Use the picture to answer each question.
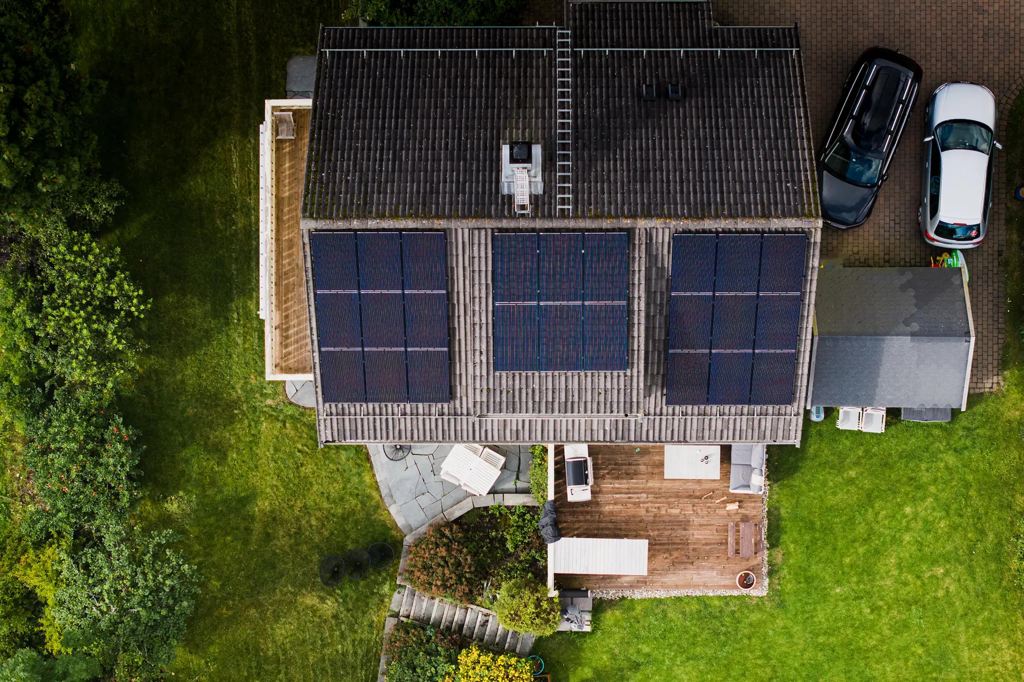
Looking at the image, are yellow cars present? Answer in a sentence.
No, there is no yellow car in the image.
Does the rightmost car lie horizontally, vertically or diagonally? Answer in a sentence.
What the image shows is the rightmost car lying vertically.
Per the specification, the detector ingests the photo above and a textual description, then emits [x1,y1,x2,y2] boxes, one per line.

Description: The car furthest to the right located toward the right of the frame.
[917,81,1008,250]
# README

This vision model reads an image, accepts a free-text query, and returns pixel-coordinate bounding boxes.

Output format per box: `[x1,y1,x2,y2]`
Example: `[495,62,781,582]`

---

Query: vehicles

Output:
[917,81,1008,250]
[814,41,924,232]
